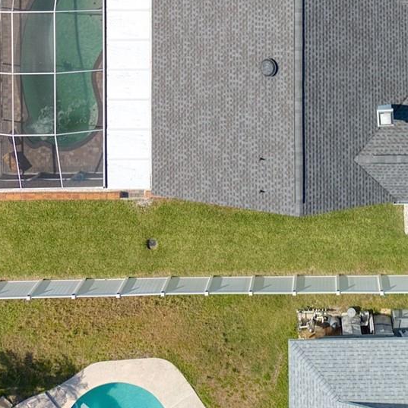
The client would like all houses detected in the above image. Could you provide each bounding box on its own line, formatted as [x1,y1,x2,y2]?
[286,334,408,408]
[147,0,408,216]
